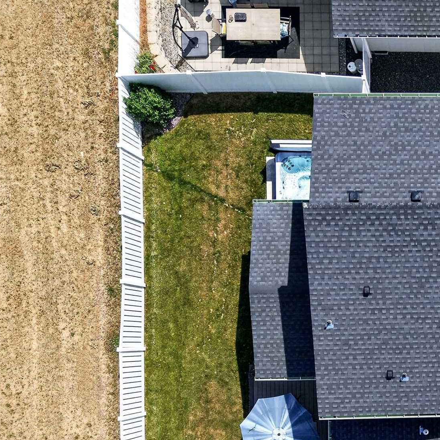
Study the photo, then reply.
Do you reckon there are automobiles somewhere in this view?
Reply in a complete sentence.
No, I find no automobile anywhere in the image.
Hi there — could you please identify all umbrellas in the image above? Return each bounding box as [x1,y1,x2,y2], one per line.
[240,393,320,440]
[173,2,210,59]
